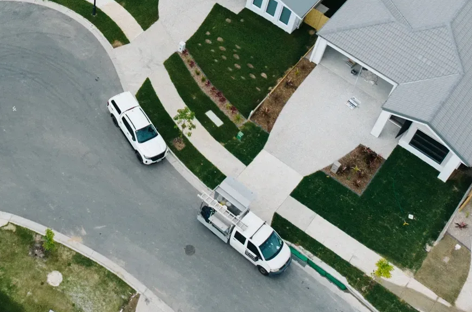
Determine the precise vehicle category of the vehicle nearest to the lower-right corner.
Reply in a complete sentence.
Looking closely, the vehicle nearest to the lower-right corner is a truck.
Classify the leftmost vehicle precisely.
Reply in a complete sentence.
The leftmost vehicle appears to be a truck.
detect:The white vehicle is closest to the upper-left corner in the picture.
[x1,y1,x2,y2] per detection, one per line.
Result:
[110,92,165,164]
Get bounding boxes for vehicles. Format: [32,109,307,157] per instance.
[196,183,295,284]
[110,92,165,164]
